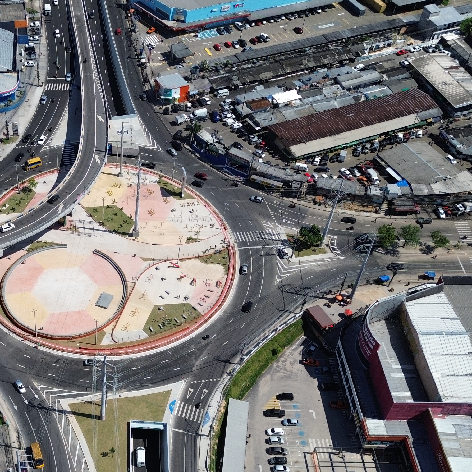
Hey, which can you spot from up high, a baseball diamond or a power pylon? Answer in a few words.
power pylon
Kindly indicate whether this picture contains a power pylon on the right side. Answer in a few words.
Yes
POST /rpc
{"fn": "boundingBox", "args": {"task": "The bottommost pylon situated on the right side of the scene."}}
[347,230,387,302]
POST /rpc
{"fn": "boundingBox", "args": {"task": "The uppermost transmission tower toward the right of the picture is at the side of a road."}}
[318,176,353,249]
